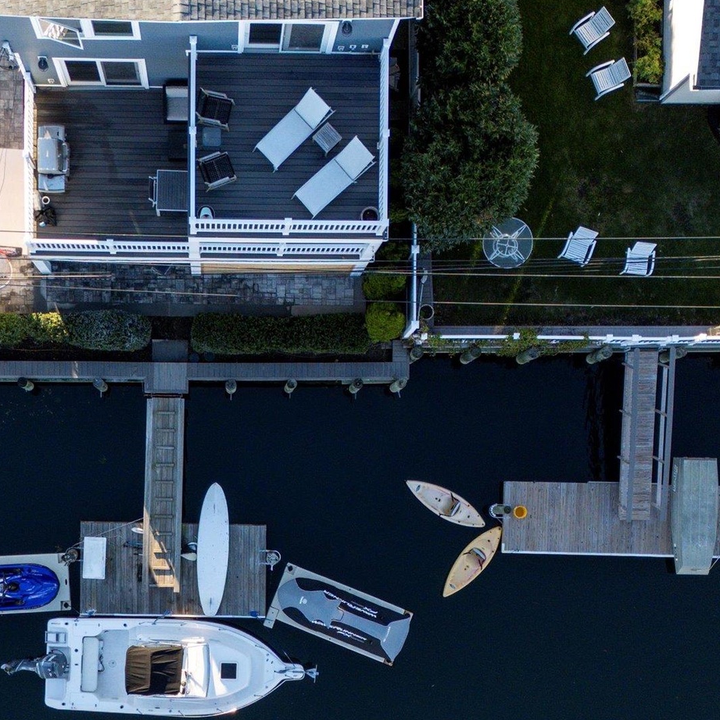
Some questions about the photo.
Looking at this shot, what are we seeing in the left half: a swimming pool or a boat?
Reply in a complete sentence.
Visible in the left half is a boat.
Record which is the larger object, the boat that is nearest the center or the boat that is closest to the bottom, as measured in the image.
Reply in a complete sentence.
Compared with the boat that is nearest the center, the boat that is closest to the bottom is the bigger one.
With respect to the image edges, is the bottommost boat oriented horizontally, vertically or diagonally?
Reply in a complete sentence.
The bottommost boat has been laid out horizontally relative to the frame.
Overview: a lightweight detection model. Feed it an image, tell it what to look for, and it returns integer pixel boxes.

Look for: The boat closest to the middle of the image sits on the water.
[406,480,485,526]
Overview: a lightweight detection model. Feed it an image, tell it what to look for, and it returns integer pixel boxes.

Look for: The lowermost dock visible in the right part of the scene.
[486,480,674,559]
